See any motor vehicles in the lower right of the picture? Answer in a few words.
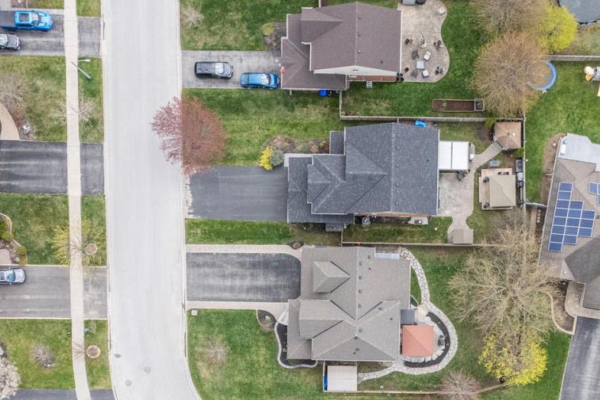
No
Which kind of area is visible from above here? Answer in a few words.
residential area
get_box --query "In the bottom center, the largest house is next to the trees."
[287,246,411,361]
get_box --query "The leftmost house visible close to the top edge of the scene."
[281,1,402,92]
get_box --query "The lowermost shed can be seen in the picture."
[326,364,357,392]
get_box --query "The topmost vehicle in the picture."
[0,10,54,32]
